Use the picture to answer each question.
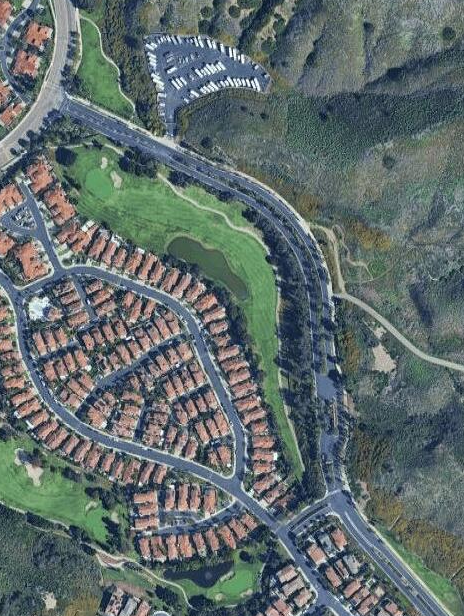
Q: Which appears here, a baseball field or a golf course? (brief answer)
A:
golf course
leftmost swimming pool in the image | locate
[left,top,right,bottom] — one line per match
[28,297,50,320]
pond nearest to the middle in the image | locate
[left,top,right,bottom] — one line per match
[168,237,249,302]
